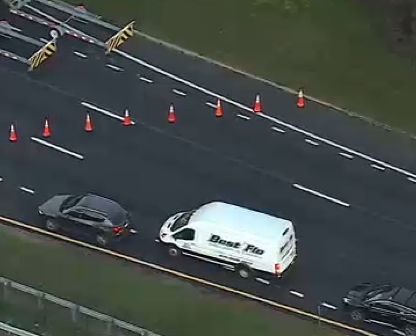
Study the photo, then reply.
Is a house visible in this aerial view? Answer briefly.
No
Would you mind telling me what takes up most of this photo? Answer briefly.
paved ground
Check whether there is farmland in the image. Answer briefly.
No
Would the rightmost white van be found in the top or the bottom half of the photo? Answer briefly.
bottom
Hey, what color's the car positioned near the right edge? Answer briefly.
black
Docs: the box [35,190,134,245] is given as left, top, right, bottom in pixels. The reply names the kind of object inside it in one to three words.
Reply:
car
